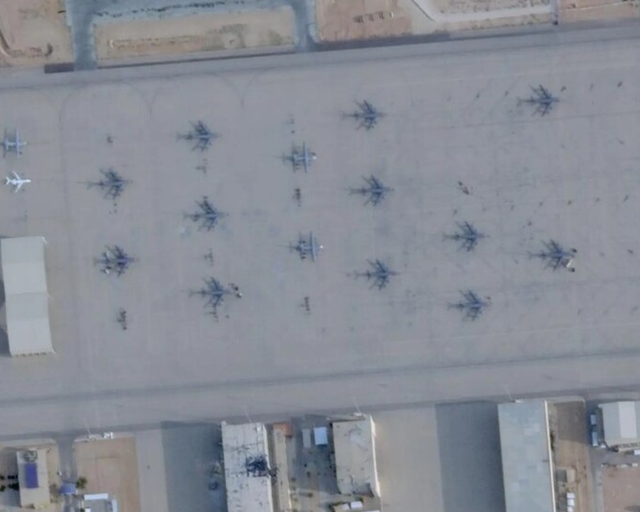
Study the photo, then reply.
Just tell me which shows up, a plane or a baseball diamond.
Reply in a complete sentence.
Visible in the photo is a plane.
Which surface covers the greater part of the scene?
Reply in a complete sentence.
The scene is dominated by paved ground.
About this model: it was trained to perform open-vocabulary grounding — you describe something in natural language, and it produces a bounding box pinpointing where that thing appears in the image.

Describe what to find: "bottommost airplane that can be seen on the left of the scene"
[199,277,233,308]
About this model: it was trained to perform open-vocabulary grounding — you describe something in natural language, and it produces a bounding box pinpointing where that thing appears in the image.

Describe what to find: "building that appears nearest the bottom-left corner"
[16,450,50,509]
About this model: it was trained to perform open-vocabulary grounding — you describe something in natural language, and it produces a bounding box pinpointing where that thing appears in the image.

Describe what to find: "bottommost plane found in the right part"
[457,290,492,322]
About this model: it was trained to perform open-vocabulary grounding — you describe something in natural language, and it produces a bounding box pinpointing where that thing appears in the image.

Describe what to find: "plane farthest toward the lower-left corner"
[104,246,138,276]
